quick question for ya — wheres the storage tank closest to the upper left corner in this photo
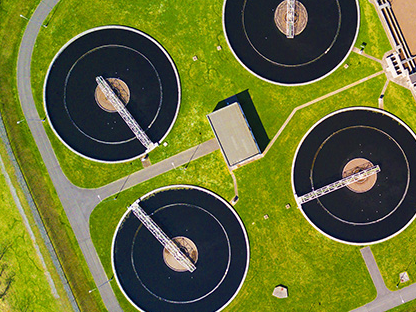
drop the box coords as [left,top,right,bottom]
[44,25,182,163]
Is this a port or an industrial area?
industrial area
